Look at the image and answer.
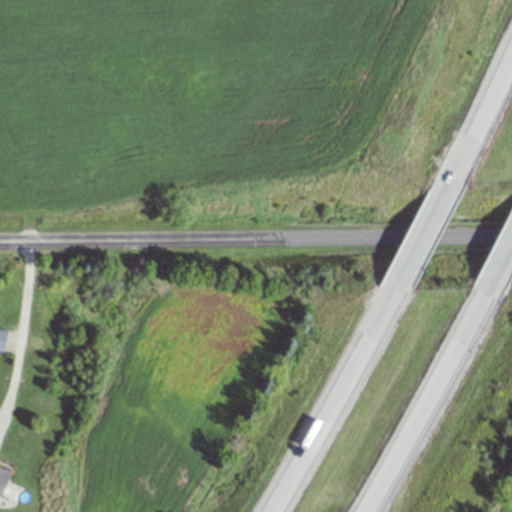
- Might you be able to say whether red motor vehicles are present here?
No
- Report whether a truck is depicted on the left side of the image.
No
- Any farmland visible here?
Yes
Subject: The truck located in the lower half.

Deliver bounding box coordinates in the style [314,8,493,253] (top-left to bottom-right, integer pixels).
[298,418,324,456]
